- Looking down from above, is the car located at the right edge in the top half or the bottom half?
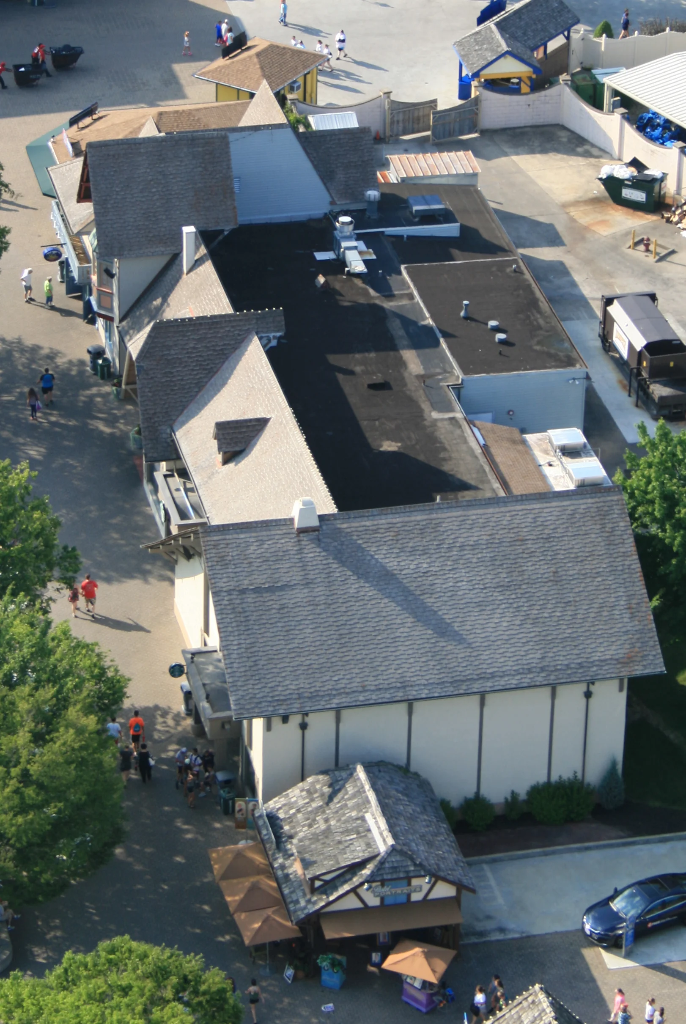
bottom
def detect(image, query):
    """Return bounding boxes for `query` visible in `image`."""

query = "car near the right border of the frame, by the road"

[577,870,686,947]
